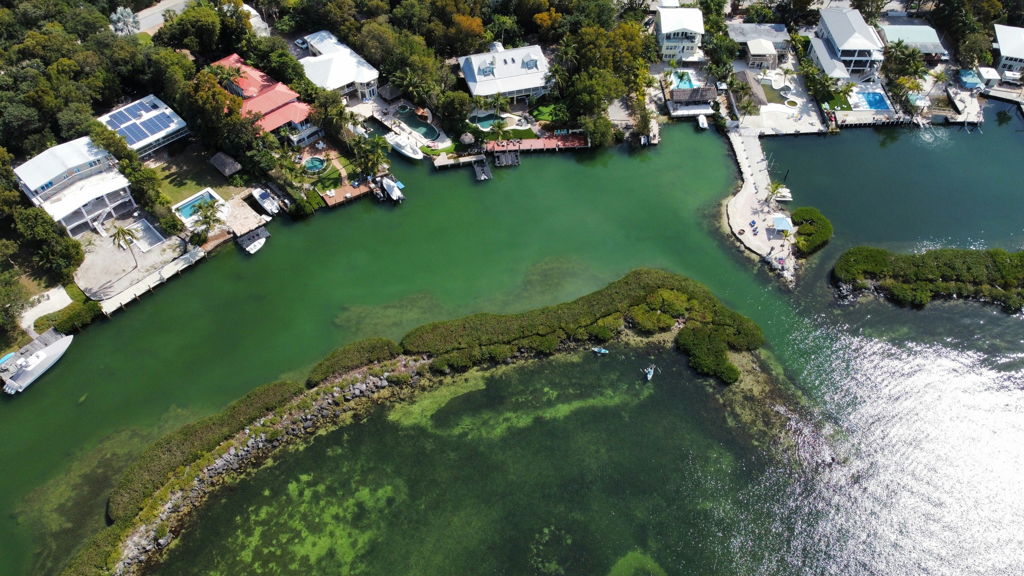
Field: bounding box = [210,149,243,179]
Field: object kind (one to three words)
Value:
shed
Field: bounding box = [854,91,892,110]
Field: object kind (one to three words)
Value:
swimming pool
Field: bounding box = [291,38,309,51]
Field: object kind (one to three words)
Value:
vehicle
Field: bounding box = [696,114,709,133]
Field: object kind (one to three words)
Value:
boat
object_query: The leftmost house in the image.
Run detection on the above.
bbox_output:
[14,136,137,238]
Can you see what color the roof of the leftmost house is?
white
